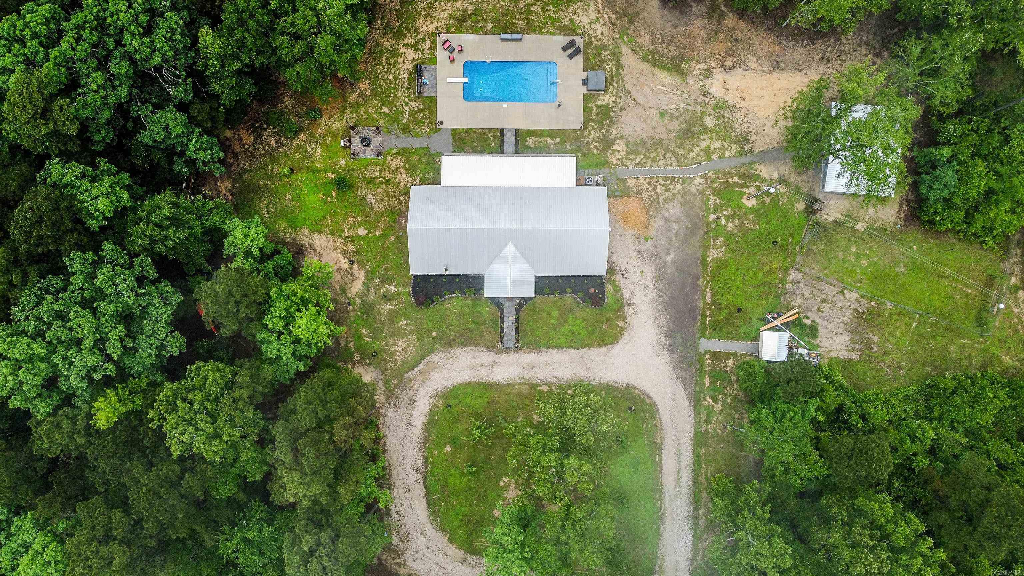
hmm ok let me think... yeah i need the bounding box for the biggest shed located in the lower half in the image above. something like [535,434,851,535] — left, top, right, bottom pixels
[756,331,789,361]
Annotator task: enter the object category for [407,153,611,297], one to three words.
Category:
house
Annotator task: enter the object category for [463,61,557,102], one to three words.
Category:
swimming pool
